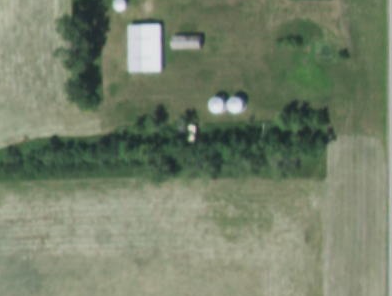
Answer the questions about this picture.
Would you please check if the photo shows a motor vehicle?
No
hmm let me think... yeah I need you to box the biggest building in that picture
[129,24,163,72]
